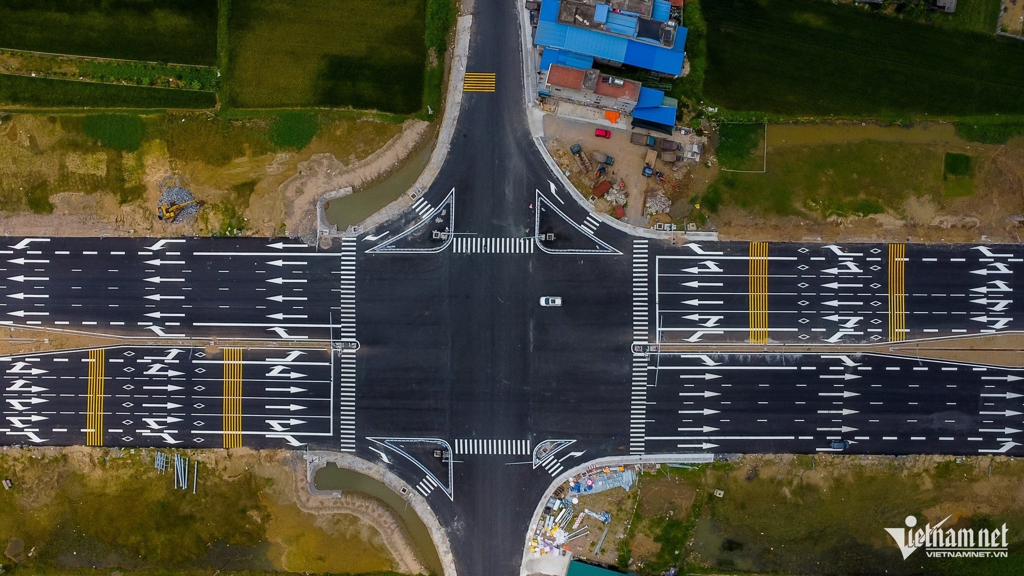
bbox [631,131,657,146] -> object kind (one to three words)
vehicle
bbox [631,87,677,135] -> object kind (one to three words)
shed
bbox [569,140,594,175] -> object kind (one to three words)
truck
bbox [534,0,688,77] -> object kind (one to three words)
house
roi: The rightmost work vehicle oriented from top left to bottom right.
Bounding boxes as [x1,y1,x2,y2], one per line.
[653,168,681,190]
